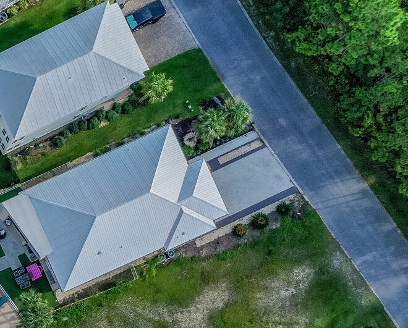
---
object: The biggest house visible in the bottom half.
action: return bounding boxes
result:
[2,124,230,291]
